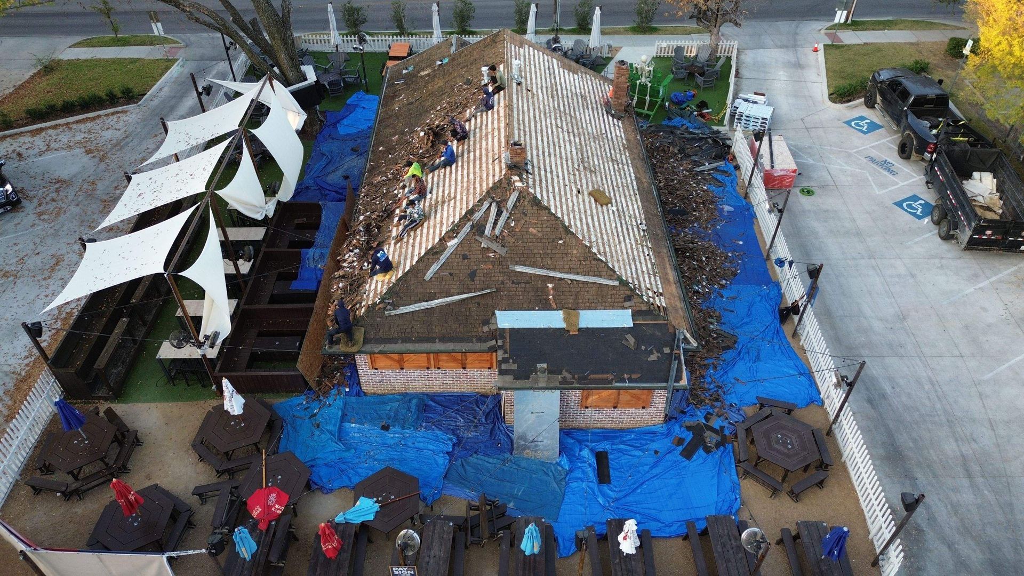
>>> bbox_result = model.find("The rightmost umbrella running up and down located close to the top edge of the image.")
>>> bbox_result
[587,5,604,56]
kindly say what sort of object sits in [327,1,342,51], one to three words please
umbrella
